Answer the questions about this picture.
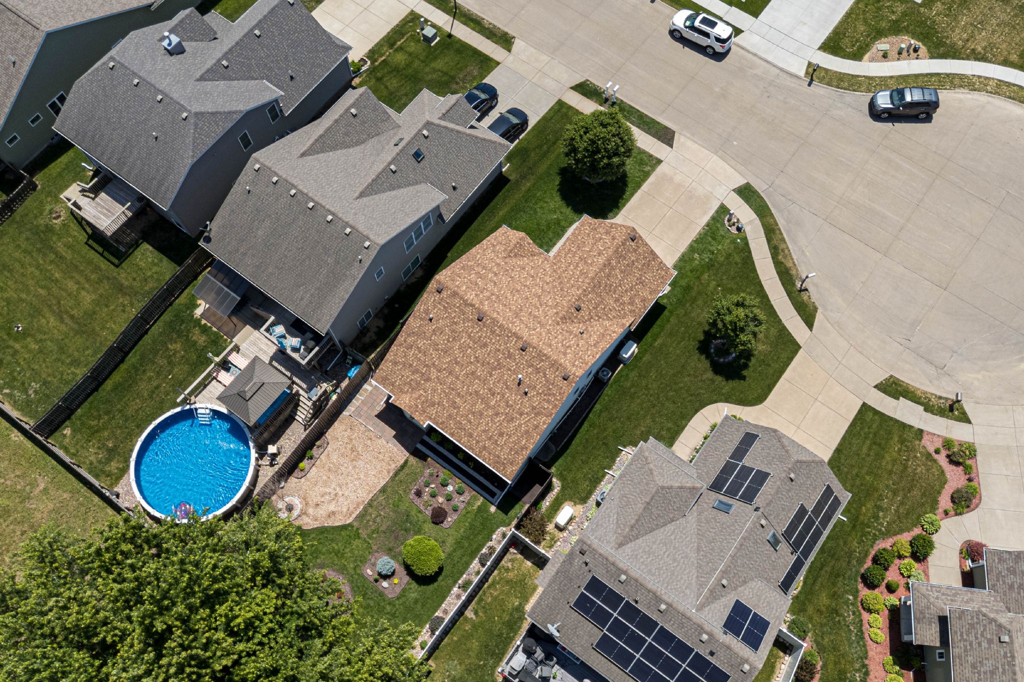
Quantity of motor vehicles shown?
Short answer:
4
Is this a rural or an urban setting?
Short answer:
urban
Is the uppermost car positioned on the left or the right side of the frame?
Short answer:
right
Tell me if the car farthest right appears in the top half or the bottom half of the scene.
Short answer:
top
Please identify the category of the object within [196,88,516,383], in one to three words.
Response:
house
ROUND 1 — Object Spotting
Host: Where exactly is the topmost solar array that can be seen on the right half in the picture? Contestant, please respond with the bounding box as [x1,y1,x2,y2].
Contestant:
[707,431,770,503]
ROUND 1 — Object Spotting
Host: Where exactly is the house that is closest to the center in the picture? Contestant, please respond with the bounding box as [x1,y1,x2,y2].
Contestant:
[371,216,678,494]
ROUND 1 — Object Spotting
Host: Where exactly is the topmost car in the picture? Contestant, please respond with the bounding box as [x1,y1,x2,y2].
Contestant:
[667,8,738,55]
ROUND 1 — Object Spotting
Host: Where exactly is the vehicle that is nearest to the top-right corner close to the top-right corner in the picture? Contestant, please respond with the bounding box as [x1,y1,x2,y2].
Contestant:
[868,84,943,119]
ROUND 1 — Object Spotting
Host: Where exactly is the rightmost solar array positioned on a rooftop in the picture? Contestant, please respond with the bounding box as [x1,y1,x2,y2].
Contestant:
[782,484,843,594]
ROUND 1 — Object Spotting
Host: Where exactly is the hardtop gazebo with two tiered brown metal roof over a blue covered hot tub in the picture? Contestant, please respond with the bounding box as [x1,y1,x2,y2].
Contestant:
[216,356,296,434]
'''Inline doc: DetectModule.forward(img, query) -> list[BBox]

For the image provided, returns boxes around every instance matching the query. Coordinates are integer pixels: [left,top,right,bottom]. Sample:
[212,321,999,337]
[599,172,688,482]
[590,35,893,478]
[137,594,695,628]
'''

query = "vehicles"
[667,8,738,55]
[485,103,530,145]
[465,81,499,125]
[868,84,943,119]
